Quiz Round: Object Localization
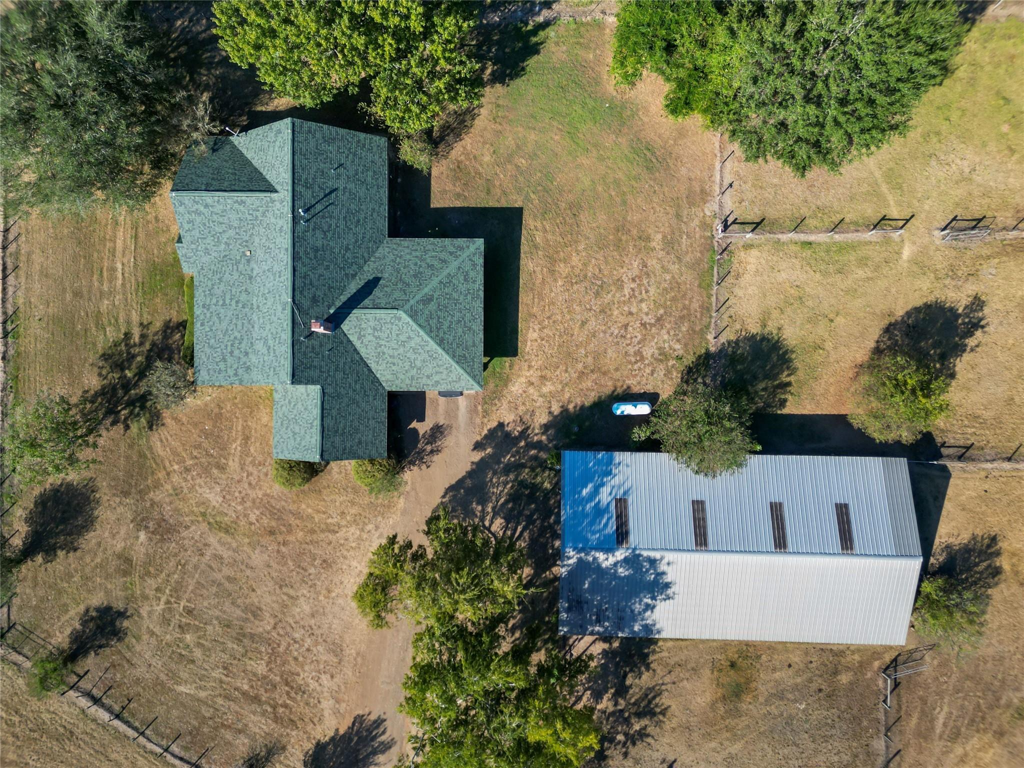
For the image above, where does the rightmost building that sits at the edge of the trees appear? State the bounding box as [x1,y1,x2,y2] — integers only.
[556,450,924,644]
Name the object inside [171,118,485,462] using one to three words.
house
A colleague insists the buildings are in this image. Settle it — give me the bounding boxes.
[556,450,924,644]
[171,118,485,462]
